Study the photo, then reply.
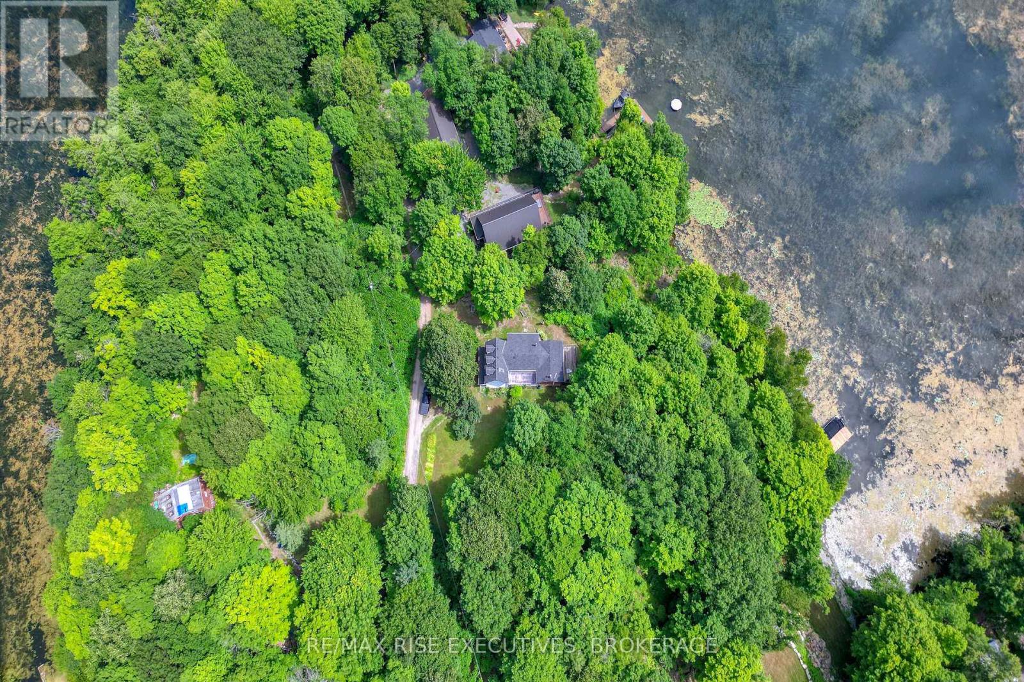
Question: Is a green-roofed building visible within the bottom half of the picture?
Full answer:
No, within the bottom half of the picture there is no green-roofed building.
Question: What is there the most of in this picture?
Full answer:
The bulk of the photo consists of trees.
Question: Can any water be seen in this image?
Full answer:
Yes, some water is visible.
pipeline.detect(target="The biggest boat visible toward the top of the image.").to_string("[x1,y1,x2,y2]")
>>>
[611,87,629,110]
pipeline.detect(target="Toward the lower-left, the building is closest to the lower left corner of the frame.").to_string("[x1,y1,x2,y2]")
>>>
[154,478,215,528]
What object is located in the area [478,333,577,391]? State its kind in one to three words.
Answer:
house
